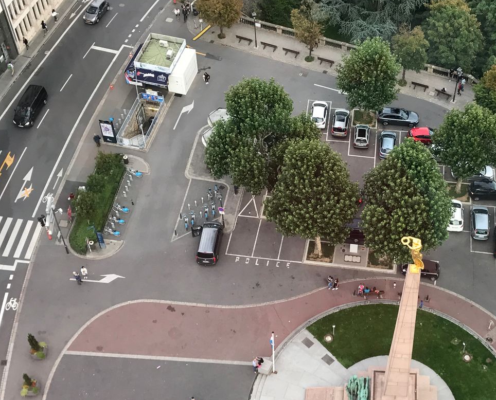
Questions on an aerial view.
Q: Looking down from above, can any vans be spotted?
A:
Yes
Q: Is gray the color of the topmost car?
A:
Yes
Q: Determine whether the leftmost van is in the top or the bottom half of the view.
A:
top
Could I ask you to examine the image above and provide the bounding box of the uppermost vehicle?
[80,0,113,26]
